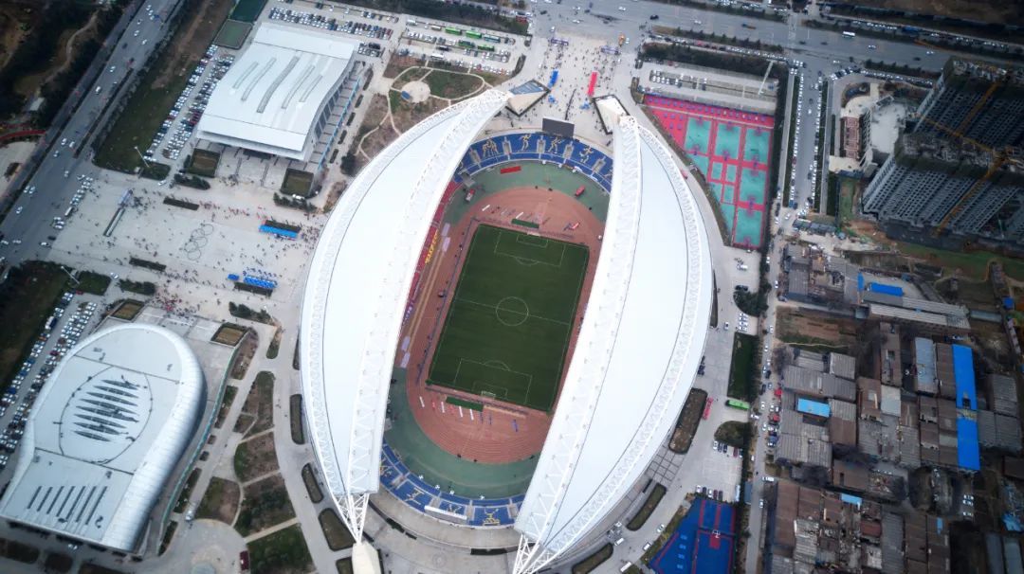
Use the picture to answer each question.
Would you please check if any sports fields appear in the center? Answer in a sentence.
Yes, the scene does show a sports field in the center.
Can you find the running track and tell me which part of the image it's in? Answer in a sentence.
The running track sits in the center section of the image.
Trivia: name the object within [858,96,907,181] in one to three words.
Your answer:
building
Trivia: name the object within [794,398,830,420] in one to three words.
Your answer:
house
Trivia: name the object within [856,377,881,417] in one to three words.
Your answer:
house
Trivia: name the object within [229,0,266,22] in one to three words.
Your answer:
tennis court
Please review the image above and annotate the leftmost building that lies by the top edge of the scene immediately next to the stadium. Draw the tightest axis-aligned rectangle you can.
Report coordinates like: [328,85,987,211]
[197,23,364,173]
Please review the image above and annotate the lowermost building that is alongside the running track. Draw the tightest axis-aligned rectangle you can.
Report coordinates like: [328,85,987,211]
[0,305,250,562]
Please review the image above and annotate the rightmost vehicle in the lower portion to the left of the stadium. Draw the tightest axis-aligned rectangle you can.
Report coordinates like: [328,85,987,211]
[235,546,251,573]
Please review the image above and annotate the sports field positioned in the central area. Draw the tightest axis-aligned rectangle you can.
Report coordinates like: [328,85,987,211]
[426,222,590,413]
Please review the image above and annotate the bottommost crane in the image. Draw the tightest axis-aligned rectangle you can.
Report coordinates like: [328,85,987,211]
[917,116,1024,233]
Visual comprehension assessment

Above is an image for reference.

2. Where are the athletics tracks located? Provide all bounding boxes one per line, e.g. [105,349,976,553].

[385,160,610,506]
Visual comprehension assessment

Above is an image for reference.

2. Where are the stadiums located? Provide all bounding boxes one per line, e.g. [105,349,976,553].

[299,78,713,574]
